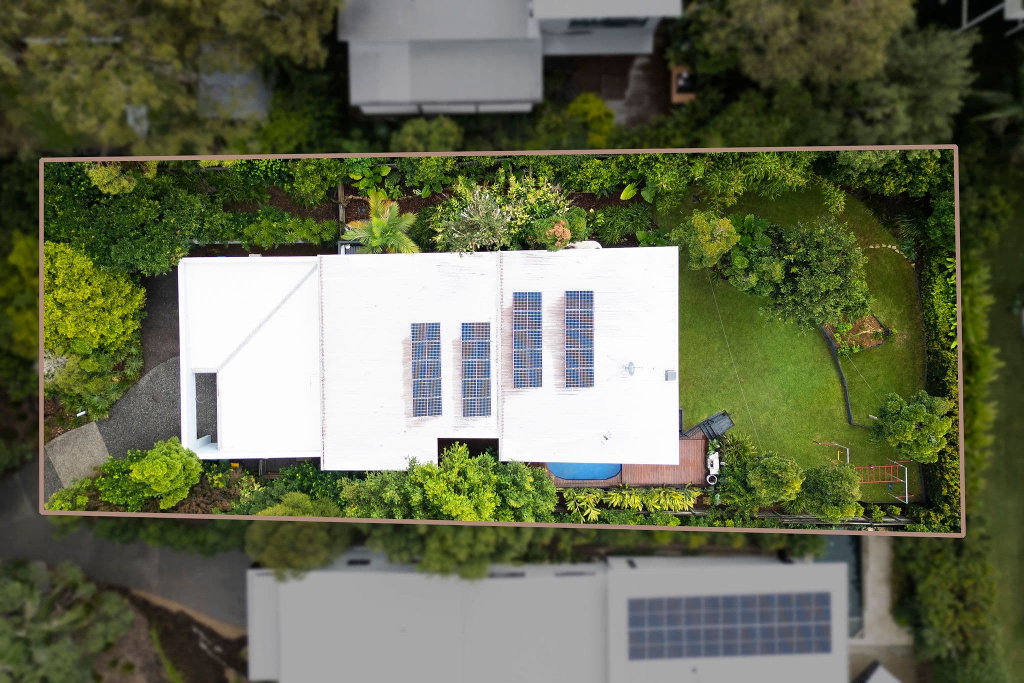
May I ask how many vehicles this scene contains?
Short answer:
0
